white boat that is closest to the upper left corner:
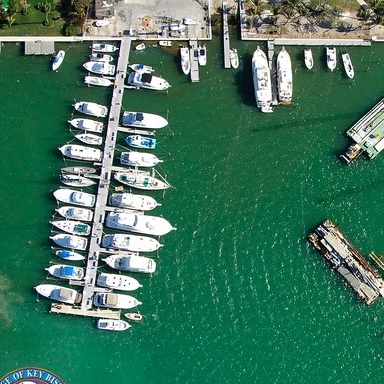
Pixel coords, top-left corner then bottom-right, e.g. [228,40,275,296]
[53,49,65,70]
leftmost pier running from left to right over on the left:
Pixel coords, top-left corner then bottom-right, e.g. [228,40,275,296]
[25,42,54,55]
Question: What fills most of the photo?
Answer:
water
